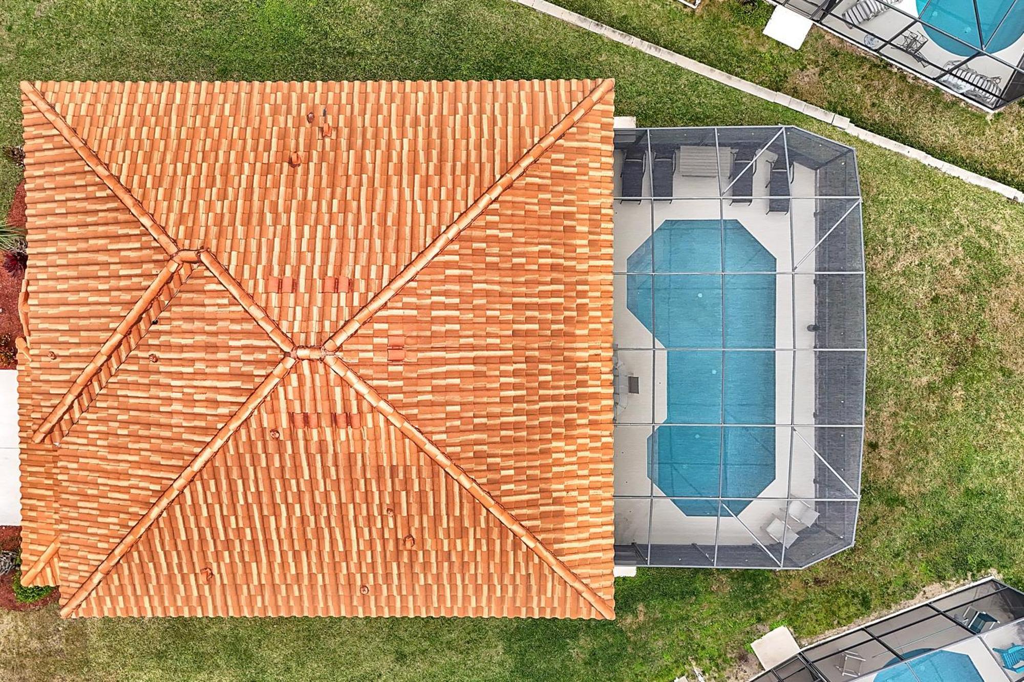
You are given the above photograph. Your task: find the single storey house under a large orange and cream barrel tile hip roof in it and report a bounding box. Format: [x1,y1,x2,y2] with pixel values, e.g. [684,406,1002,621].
[15,75,618,623]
